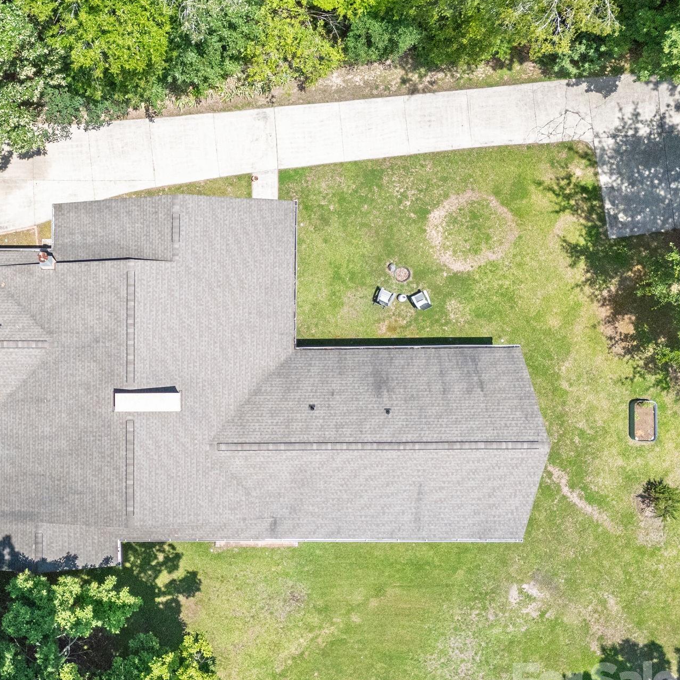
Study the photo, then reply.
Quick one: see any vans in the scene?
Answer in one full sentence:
No, there appears to be no van in this shot.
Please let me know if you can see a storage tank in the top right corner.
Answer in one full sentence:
No, no storage tank is visible in the top right corner.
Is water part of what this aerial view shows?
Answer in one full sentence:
No, there is no water in the image.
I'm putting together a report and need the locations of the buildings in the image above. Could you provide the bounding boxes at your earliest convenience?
[0,190,553,571]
